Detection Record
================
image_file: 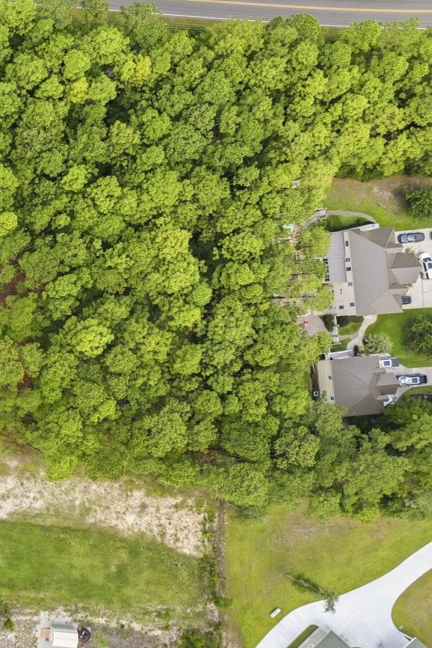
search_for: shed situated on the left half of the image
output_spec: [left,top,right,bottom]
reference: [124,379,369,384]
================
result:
[47,623,78,648]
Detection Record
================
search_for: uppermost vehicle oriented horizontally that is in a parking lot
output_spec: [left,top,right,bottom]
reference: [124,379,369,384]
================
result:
[395,231,425,244]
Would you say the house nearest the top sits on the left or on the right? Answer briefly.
right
